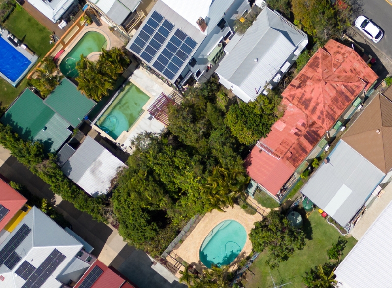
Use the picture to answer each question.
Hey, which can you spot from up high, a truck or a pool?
pool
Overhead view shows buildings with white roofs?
Yes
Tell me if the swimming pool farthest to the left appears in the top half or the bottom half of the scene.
top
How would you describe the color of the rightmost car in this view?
white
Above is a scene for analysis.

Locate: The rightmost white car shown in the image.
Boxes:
[353,16,384,43]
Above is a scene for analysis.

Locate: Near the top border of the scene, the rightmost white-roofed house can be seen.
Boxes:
[214,6,307,104]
